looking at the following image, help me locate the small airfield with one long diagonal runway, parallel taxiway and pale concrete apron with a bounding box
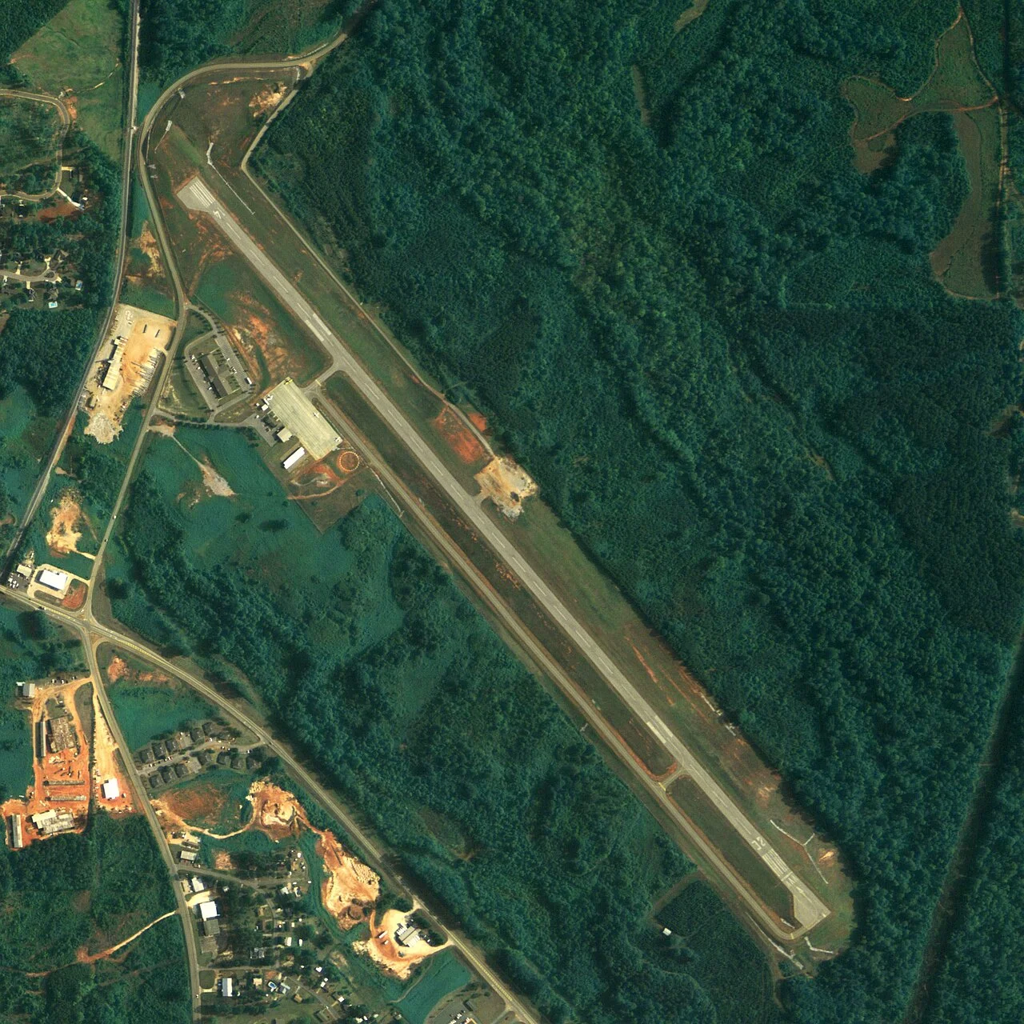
[177,177,831,938]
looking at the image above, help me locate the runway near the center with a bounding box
[177,177,831,929]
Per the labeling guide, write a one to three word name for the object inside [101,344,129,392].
shed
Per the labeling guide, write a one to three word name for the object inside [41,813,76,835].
building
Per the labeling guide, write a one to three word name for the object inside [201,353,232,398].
building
